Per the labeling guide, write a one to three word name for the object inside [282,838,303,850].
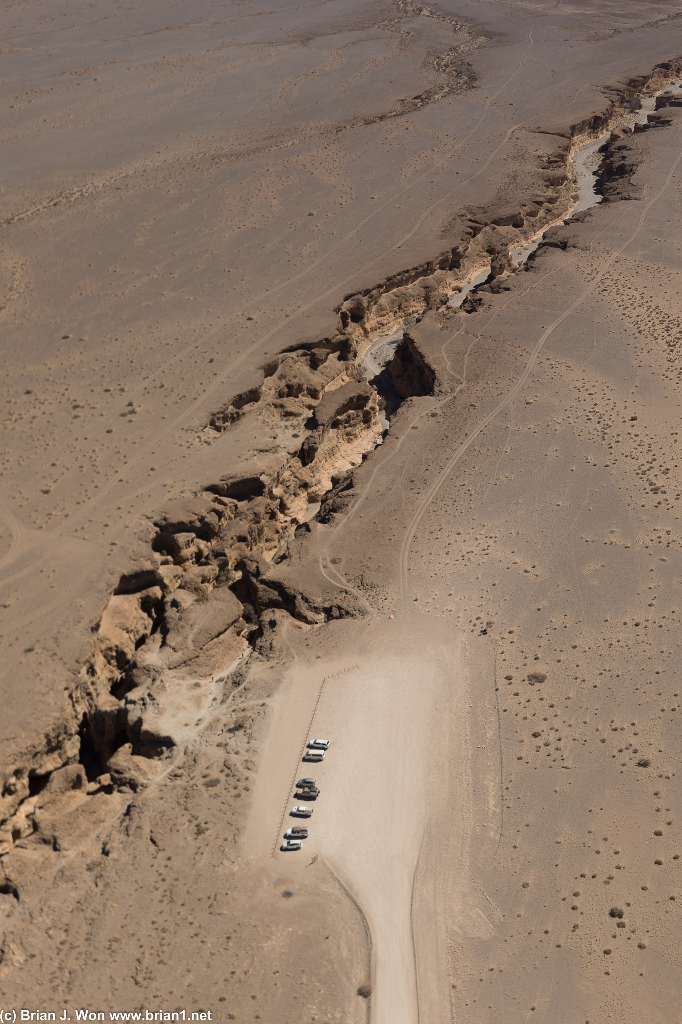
vehicle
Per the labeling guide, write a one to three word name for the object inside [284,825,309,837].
vehicle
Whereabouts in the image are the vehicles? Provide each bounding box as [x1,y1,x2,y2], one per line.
[282,838,303,850]
[308,737,331,749]
[289,804,313,816]
[304,748,325,759]
[294,785,318,797]
[284,825,309,837]
[297,777,316,787]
